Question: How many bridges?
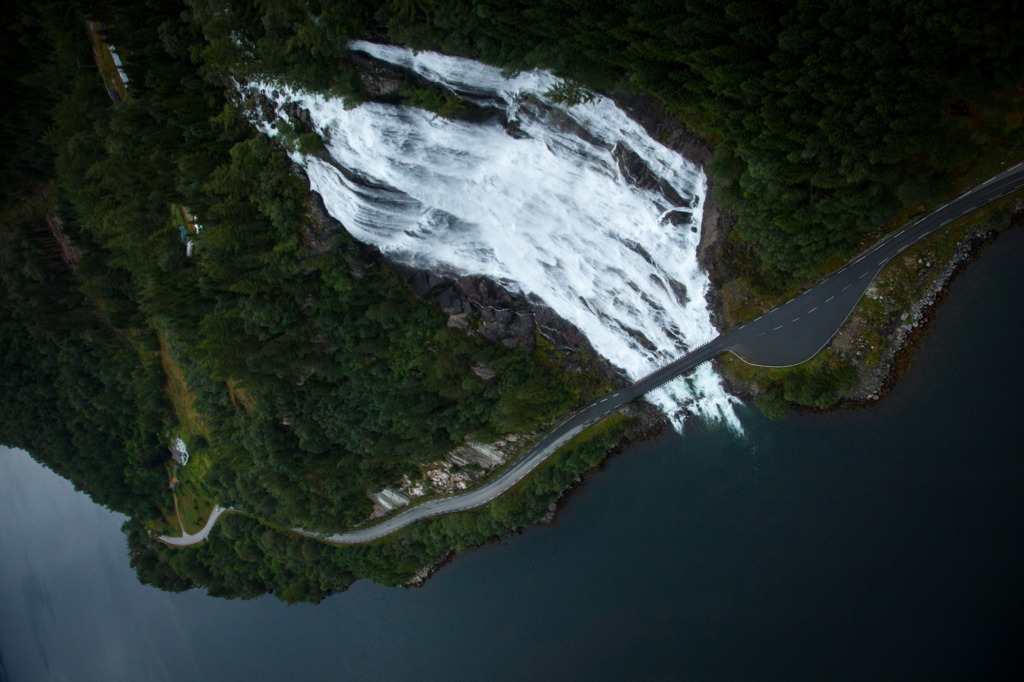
1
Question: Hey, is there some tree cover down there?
Yes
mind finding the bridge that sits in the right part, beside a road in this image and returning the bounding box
[629,335,723,399]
